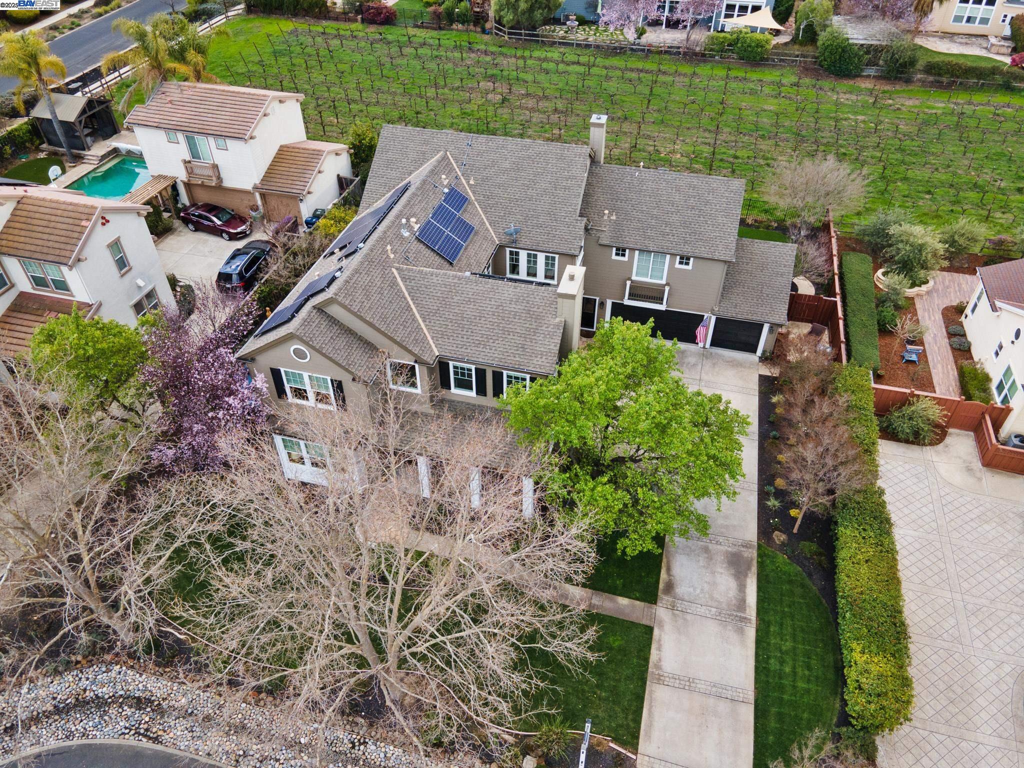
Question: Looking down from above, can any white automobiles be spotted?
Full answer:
No, no white automobile is visible in the view.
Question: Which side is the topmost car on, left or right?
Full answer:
The topmost car sits on the left side.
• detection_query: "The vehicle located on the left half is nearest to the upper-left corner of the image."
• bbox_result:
[180,204,253,241]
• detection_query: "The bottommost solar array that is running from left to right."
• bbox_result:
[452,268,560,288]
